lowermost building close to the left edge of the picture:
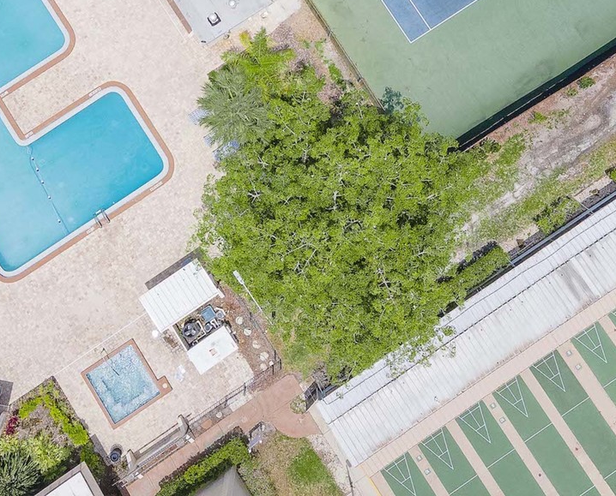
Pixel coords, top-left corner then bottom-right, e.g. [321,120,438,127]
[28,451,124,496]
